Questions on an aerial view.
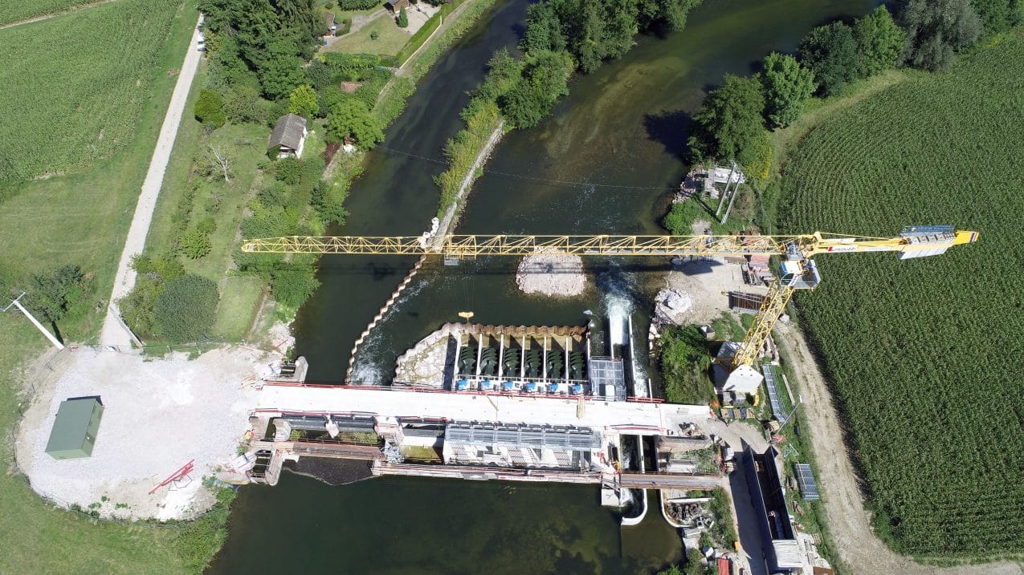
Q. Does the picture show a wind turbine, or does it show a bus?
wind turbine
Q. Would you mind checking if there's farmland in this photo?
Yes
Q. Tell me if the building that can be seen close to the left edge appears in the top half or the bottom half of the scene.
bottom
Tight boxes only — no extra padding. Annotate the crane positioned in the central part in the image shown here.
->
[243,217,976,397]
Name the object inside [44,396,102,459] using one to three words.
building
